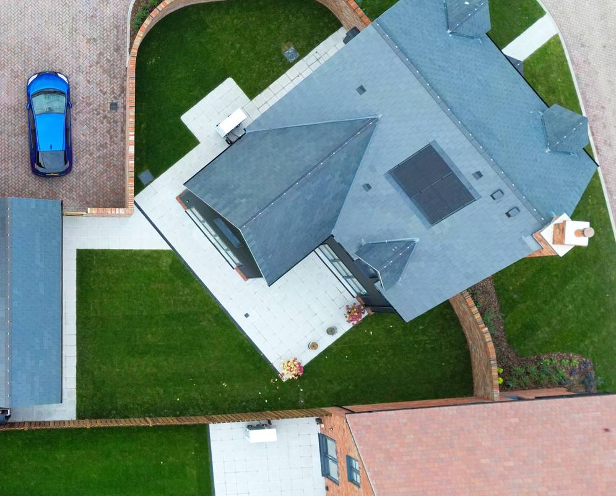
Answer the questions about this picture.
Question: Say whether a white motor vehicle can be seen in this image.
No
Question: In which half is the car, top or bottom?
top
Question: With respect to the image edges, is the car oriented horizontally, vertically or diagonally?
vertically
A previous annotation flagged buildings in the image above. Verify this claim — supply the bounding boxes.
[319,387,616,496]
[0,197,64,407]
[175,0,599,324]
